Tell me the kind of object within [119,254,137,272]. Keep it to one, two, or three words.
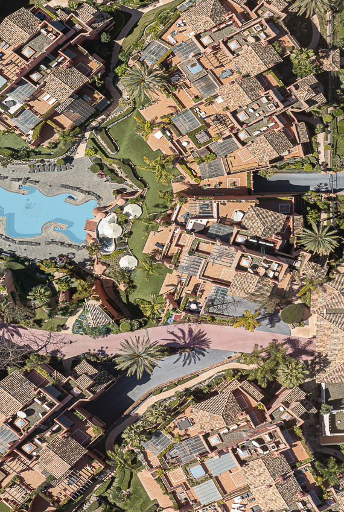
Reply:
umbrella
